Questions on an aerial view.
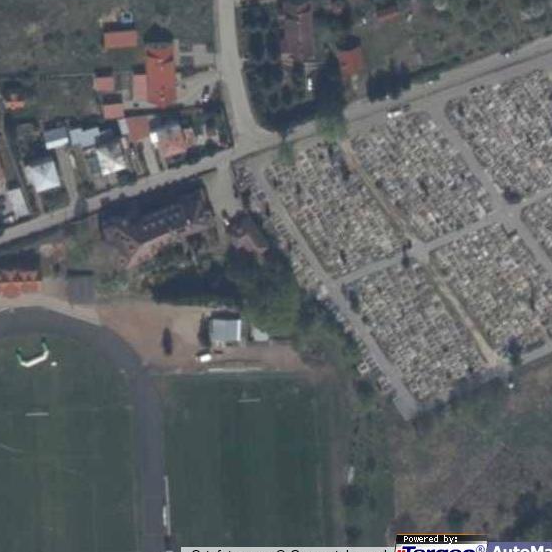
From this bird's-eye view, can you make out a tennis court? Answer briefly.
No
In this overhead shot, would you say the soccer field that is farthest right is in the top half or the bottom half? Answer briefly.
bottom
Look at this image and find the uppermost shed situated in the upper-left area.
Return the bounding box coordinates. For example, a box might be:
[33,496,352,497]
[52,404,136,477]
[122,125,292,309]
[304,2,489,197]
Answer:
[103,30,136,48]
